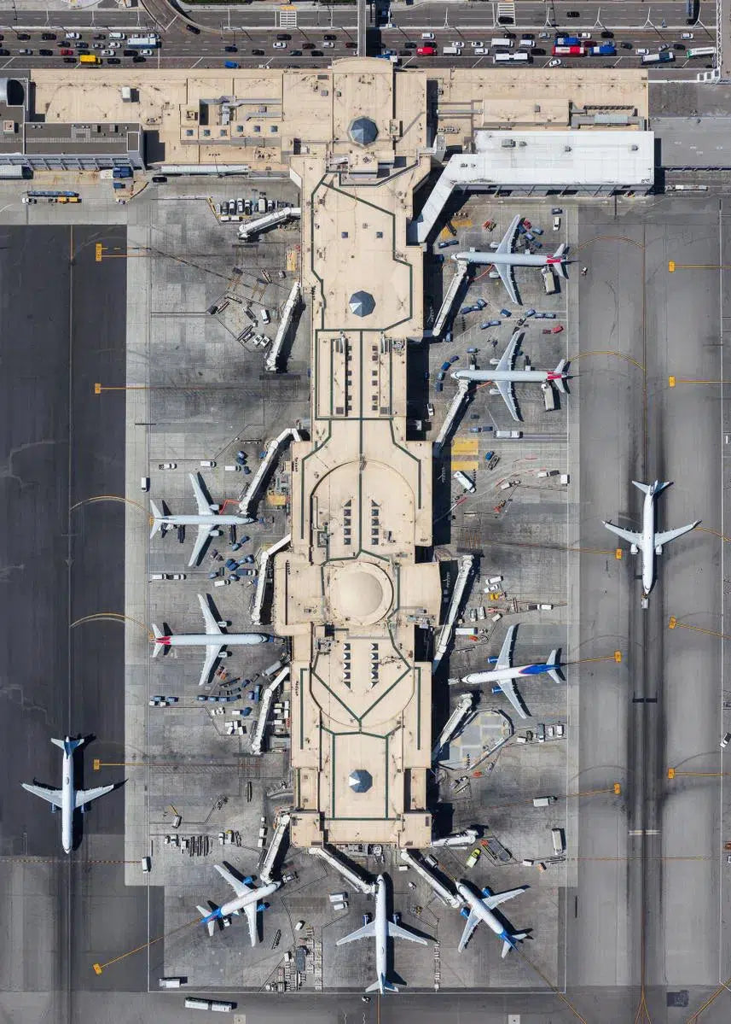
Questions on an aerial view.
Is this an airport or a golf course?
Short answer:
airport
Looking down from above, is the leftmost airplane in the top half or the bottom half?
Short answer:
bottom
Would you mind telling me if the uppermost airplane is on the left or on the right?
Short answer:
right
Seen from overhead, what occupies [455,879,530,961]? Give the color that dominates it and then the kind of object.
white airplane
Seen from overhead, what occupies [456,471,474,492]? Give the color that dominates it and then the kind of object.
white vehicle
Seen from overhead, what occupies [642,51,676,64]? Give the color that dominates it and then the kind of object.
white vehicle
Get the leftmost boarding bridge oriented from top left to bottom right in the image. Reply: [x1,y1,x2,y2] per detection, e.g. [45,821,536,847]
[310,848,378,893]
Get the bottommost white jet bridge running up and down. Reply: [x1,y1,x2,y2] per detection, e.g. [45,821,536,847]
[264,810,290,886]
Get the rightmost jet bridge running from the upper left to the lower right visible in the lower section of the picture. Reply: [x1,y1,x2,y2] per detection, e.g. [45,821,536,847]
[399,848,468,905]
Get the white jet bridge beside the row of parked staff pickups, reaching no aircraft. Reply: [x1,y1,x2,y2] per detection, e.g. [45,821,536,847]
[237,207,301,245]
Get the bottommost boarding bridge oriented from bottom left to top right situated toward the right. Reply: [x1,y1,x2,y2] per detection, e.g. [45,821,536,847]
[432,691,474,758]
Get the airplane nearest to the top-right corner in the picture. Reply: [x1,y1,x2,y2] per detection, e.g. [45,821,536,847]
[451,215,570,304]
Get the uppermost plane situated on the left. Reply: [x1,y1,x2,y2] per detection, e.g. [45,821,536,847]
[150,471,255,564]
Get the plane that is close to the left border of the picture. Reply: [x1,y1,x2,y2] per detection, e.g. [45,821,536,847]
[20,737,112,854]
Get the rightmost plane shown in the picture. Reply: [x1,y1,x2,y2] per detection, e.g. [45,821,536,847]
[604,480,699,594]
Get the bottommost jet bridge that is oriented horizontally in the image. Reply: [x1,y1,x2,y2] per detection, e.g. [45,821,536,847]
[432,830,482,847]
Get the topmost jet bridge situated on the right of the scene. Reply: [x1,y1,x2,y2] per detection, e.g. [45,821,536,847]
[431,260,469,337]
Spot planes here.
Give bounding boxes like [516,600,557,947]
[461,624,565,718]
[148,593,269,684]
[195,867,281,947]
[150,471,255,564]
[20,737,112,854]
[604,480,699,594]
[337,874,427,996]
[451,215,570,304]
[455,879,530,961]
[451,331,570,421]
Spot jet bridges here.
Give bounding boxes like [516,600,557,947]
[251,663,291,757]
[431,260,469,337]
[264,810,290,886]
[399,848,468,905]
[237,207,301,245]
[238,425,305,518]
[432,830,482,847]
[432,691,474,758]
[265,282,302,377]
[432,553,474,671]
[310,848,378,893]
[433,378,469,450]
[251,531,292,628]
